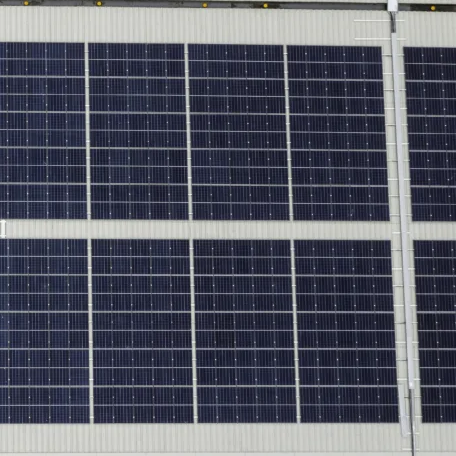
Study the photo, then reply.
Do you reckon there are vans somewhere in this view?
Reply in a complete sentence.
No, this view has no van in it.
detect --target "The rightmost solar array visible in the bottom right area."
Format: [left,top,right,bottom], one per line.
[413,240,456,423]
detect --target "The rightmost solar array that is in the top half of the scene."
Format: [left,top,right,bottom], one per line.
[403,47,456,223]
